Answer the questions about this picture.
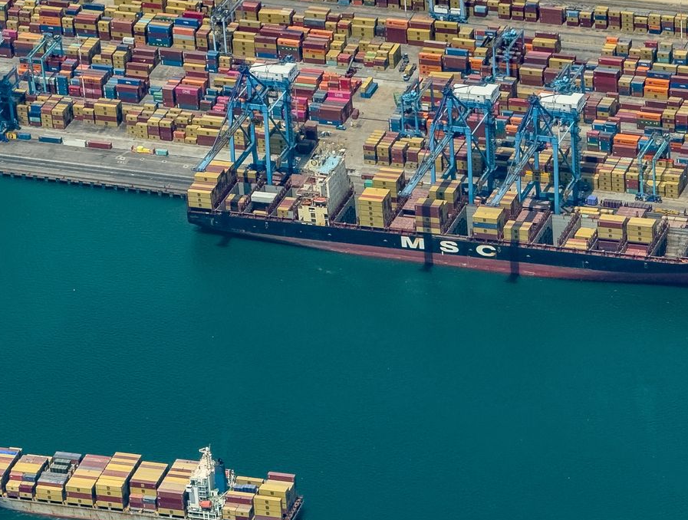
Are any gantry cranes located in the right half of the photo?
Yes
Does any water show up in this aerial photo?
Yes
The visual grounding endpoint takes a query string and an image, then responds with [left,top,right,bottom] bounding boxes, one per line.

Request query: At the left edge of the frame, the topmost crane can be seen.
[28,30,66,93]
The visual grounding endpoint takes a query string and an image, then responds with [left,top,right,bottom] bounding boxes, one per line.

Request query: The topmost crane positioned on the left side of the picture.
[210,0,247,53]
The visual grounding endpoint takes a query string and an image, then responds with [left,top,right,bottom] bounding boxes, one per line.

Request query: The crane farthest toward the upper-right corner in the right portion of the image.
[545,64,578,90]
